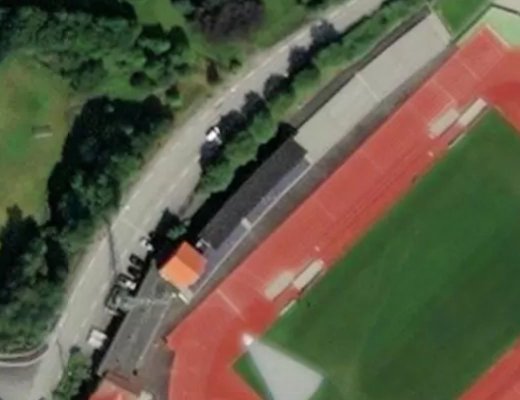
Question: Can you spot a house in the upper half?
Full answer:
No, I can find no house in the upper half.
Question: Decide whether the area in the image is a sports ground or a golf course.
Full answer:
The area seen from above is a sports ground.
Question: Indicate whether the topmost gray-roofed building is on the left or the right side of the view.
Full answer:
The topmost gray-roofed building appears in the left half of the scene.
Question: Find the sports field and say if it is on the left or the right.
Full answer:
The sports field appears in the right half of the scene.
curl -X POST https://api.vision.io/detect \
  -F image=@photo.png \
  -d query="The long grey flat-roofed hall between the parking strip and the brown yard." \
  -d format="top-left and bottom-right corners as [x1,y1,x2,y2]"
[96,263,172,382]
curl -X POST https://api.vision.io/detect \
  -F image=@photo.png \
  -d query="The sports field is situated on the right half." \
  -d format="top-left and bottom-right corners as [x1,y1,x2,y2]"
[233,107,520,400]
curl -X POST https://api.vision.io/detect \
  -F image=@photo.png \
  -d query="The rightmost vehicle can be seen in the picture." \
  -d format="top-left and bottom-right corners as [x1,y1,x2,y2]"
[206,126,220,141]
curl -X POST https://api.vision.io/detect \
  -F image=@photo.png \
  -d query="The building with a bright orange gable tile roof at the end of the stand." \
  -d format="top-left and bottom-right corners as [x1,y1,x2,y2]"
[158,242,208,290]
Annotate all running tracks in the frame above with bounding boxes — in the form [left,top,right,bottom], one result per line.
[168,26,520,400]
